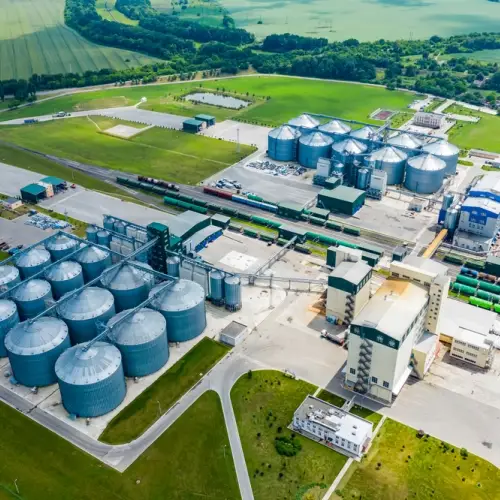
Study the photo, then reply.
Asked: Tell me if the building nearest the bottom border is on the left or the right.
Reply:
right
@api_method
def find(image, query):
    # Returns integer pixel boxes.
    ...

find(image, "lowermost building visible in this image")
[287,390,377,459]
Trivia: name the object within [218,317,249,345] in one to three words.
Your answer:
house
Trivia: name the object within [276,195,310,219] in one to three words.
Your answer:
shed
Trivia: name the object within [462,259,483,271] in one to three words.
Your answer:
rail car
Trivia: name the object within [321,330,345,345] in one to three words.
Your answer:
vehicle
